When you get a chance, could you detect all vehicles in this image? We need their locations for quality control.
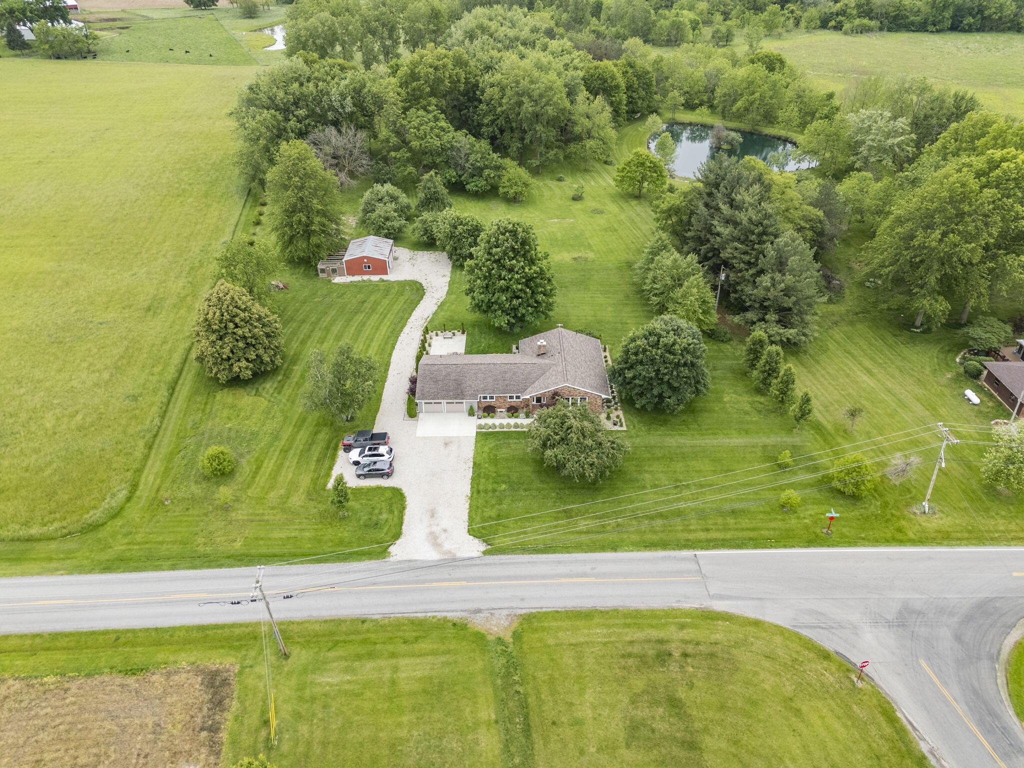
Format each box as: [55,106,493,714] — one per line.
[355,460,396,480]
[351,447,395,466]
[340,431,393,453]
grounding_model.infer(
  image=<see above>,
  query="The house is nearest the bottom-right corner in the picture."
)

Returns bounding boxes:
[983,363,1024,418]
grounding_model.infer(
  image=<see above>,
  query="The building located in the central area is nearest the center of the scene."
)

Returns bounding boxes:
[414,321,611,414]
